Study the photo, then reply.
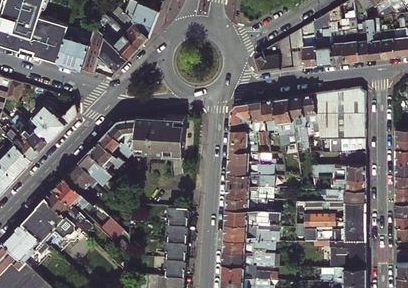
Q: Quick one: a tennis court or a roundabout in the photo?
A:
roundabout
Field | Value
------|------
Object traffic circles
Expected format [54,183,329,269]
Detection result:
[160,22,235,97]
